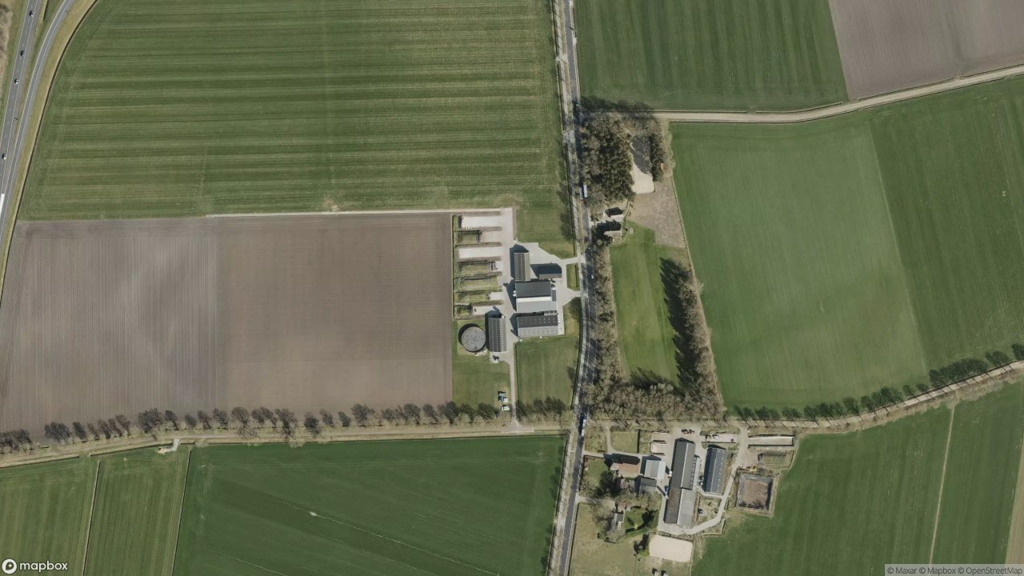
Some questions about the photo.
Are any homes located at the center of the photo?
Yes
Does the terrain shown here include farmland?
Yes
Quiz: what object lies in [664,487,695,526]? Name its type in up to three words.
barn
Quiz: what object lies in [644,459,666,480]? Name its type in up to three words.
shed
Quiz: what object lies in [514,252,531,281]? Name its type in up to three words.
barn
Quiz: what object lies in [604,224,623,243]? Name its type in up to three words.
house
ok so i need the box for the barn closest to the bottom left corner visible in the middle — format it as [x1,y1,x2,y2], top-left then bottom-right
[489,317,506,352]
